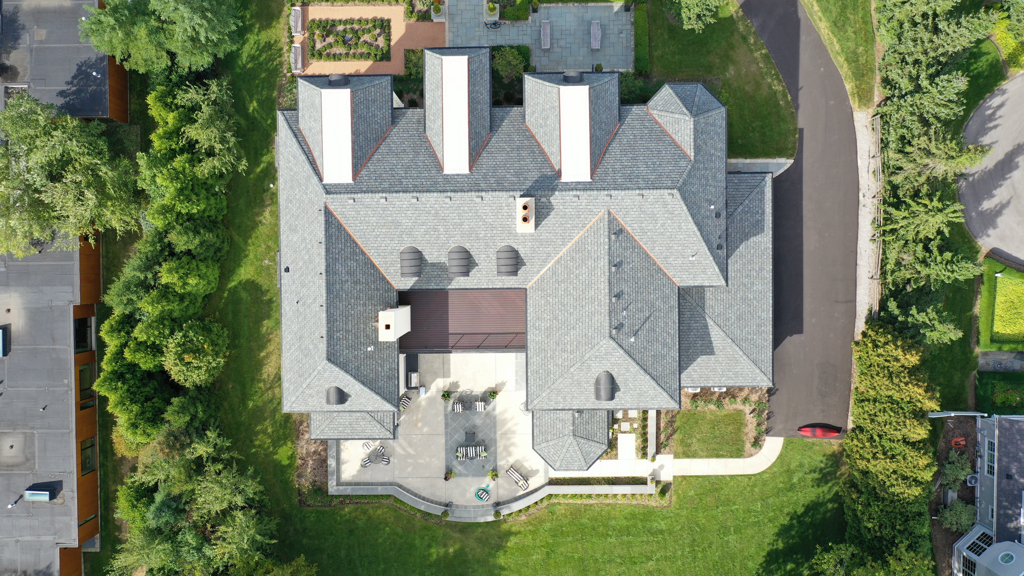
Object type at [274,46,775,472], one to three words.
house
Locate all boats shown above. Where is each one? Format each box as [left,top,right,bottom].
[798,426,842,439]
